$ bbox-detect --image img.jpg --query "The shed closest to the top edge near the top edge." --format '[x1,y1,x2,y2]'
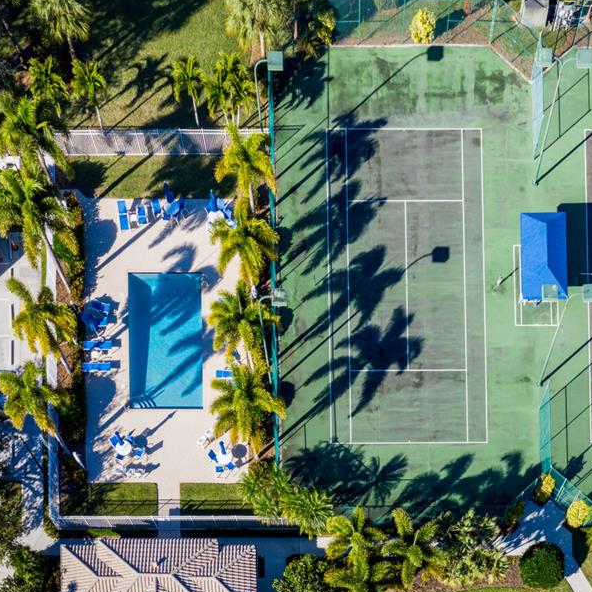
[519,0,548,40]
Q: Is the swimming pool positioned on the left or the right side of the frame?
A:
left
